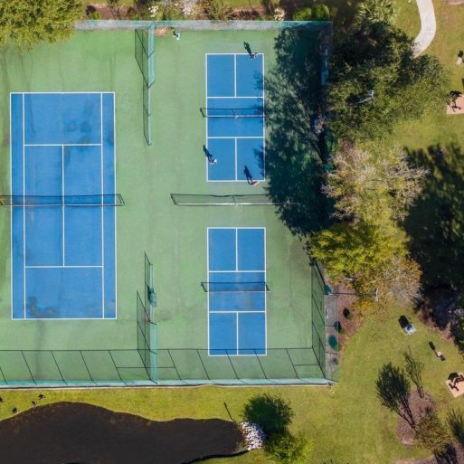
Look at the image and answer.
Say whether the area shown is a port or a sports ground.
sports ground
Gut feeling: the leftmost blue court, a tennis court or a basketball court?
tennis court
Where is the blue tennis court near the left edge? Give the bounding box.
[10,92,117,319]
